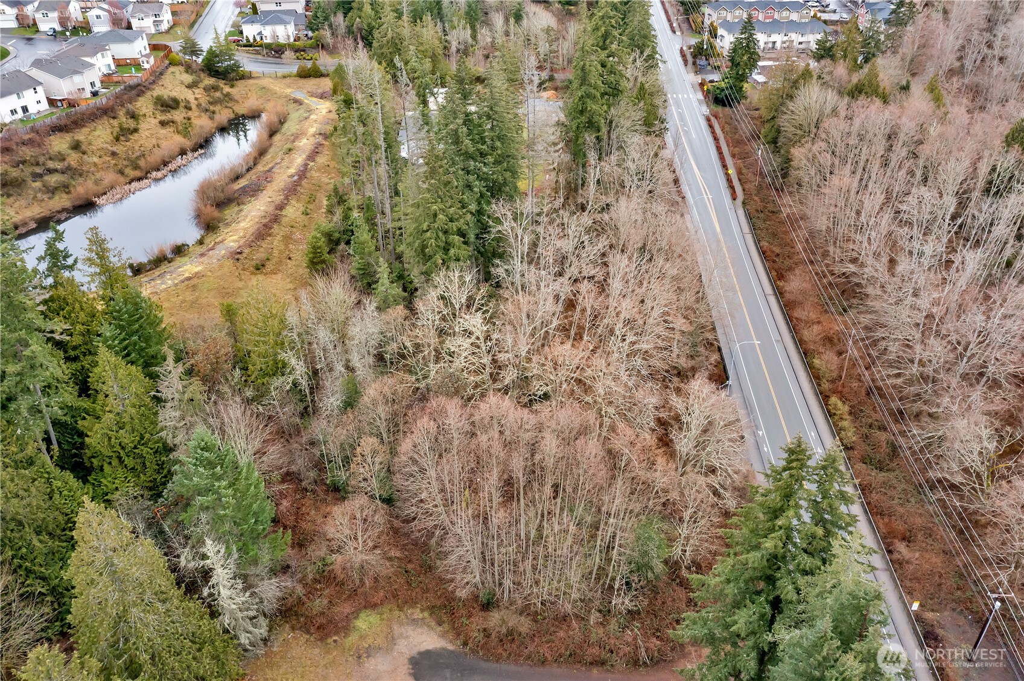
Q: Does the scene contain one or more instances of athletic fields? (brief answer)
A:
No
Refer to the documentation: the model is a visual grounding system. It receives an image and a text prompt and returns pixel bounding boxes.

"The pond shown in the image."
[4,116,264,300]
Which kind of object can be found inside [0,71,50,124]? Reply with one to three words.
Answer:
house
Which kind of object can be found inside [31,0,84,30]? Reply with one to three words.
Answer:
house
